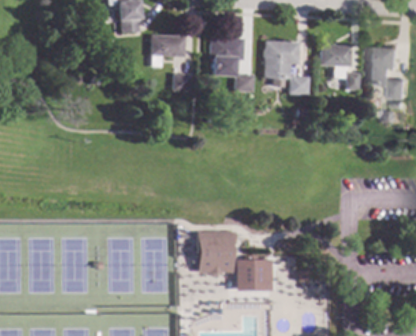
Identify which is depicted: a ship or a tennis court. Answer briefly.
tennis court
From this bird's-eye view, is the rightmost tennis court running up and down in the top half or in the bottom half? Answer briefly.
bottom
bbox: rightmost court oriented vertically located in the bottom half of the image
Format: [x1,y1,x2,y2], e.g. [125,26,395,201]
[141,238,168,294]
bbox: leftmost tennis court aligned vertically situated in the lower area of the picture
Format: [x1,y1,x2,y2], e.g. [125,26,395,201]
[0,238,22,294]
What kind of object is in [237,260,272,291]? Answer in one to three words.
building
